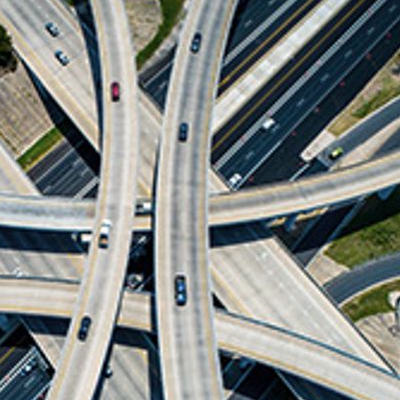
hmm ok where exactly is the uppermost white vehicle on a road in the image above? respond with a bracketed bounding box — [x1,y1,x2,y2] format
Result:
[261,117,276,132]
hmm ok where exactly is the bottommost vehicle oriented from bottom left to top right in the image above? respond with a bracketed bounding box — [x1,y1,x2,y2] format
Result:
[18,358,37,377]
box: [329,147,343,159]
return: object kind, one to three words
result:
vehicle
